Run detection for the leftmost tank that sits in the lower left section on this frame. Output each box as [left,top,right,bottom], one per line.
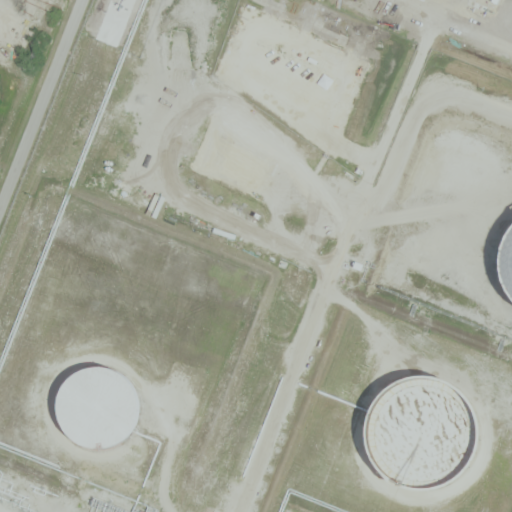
[53,365,142,453]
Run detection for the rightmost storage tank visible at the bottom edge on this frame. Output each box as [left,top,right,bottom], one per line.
[362,374,478,492]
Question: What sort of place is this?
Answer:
industrial area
